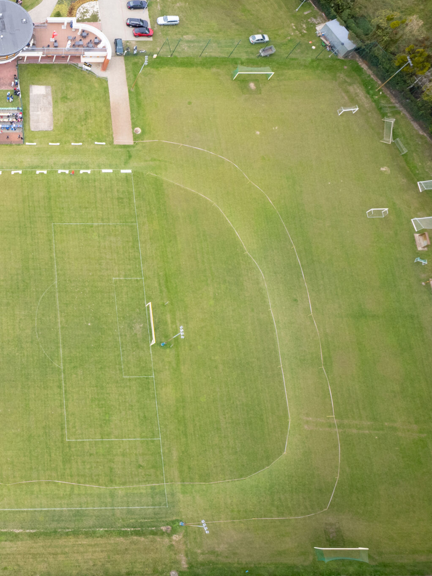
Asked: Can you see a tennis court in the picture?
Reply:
No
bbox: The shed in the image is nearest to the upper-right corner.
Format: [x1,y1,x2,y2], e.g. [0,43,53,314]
[316,22,358,62]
